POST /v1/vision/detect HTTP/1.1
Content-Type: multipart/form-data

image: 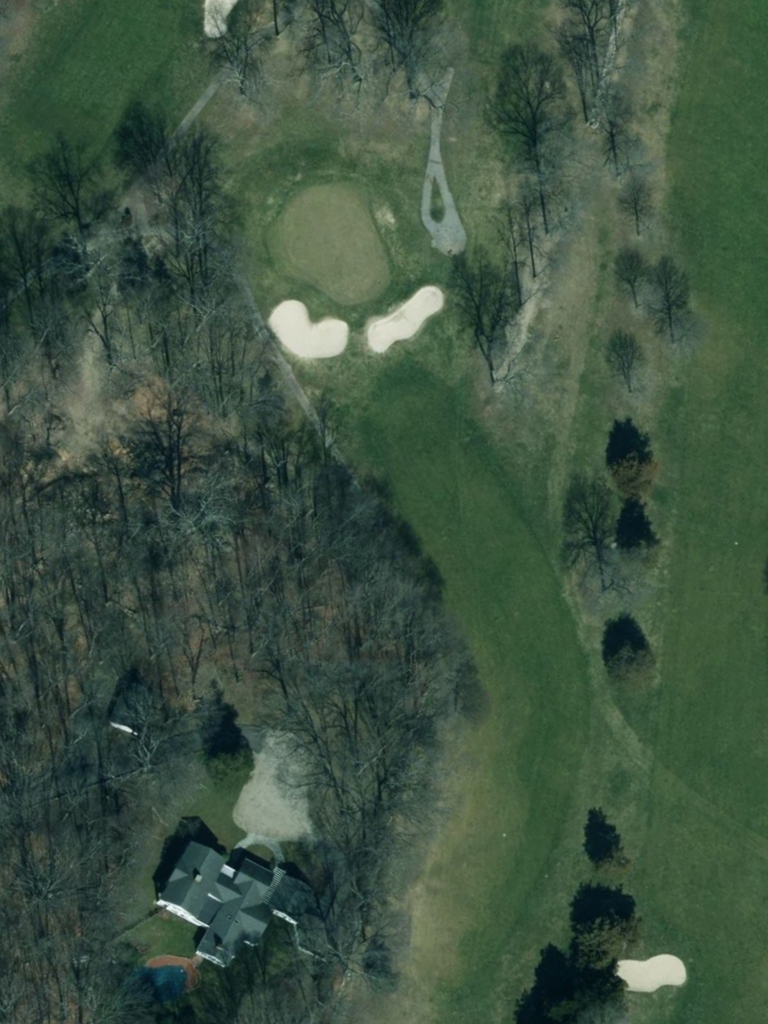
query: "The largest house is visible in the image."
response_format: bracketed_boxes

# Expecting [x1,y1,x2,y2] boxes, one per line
[160,843,311,966]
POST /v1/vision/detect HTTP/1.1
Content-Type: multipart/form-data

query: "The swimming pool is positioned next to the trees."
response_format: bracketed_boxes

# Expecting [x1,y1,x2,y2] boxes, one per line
[130,954,202,1006]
